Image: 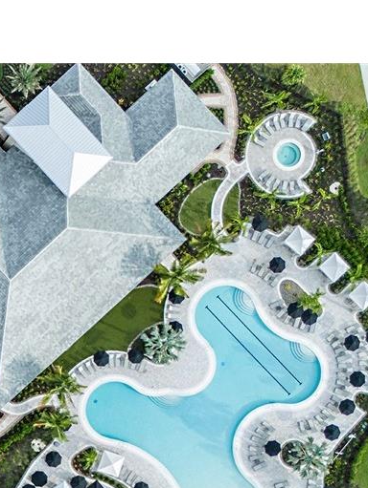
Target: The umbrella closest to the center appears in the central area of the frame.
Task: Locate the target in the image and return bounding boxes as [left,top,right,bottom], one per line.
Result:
[168,287,185,305]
